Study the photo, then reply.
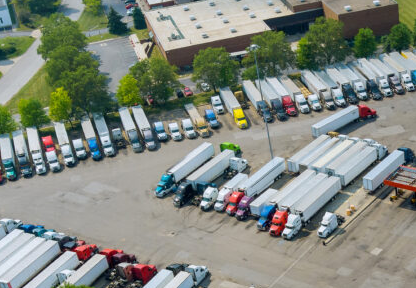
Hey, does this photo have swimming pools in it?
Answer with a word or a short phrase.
No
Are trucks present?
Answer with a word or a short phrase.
Yes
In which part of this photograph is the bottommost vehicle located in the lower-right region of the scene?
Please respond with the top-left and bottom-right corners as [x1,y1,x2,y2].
[318,210,344,239]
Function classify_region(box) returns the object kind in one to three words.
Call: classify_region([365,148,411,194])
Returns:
truck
